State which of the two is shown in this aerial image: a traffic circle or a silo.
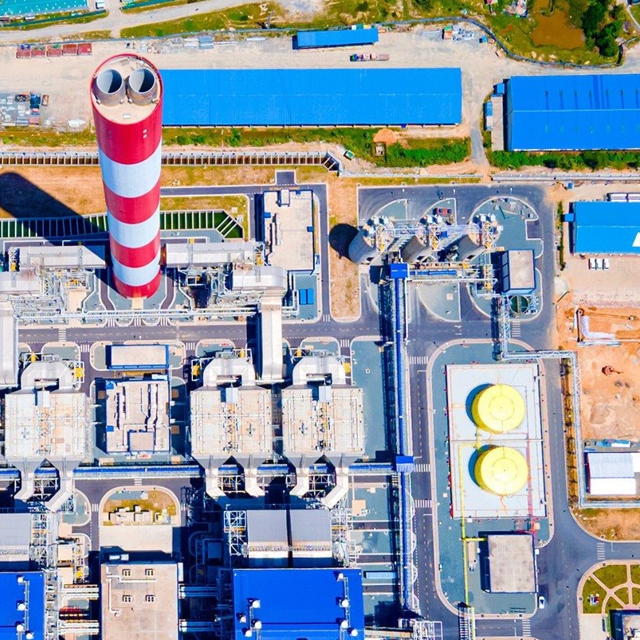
silo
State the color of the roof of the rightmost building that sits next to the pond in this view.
blue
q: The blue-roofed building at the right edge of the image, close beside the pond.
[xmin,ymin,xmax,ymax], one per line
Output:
[501,74,640,158]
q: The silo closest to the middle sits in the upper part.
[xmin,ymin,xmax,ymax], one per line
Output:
[348,215,395,269]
